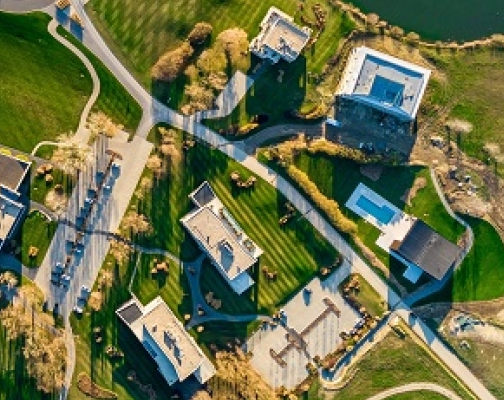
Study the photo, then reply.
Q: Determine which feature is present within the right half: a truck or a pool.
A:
pool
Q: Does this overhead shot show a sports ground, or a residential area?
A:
residential area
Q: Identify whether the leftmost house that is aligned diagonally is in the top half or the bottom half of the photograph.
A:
bottom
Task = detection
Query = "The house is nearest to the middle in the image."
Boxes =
[178,181,264,295]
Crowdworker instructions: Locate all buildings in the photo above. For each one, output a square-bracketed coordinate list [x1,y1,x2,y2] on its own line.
[178,181,264,295]
[248,7,313,65]
[340,47,430,124]
[115,292,215,386]
[389,220,463,283]
[0,151,32,250]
